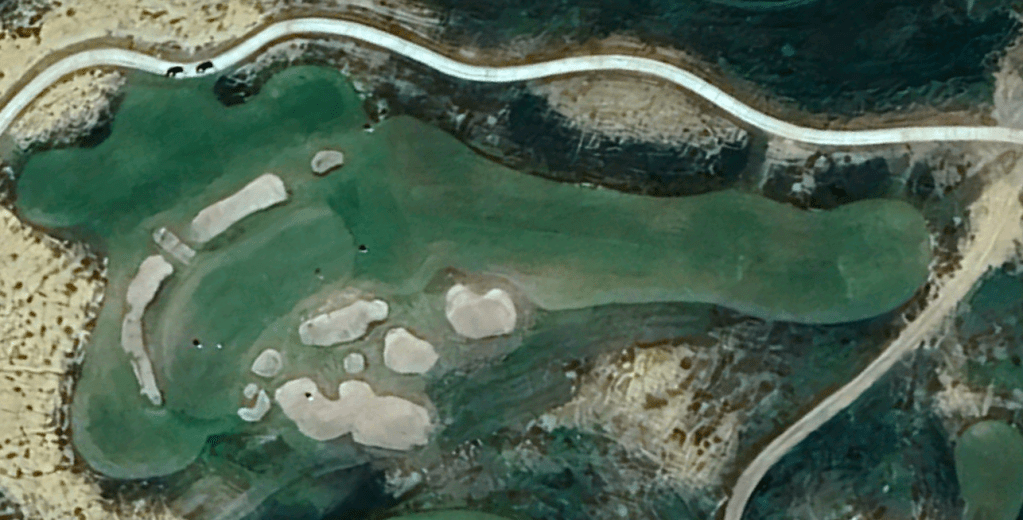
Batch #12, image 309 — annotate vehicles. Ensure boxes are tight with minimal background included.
[198,64,214,75]
[168,68,184,77]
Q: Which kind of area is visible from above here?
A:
golf course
